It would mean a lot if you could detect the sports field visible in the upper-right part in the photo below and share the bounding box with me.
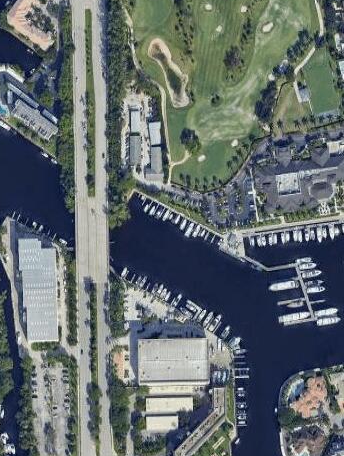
[276,53,342,133]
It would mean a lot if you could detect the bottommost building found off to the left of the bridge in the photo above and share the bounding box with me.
[19,238,58,343]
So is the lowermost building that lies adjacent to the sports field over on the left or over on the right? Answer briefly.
right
